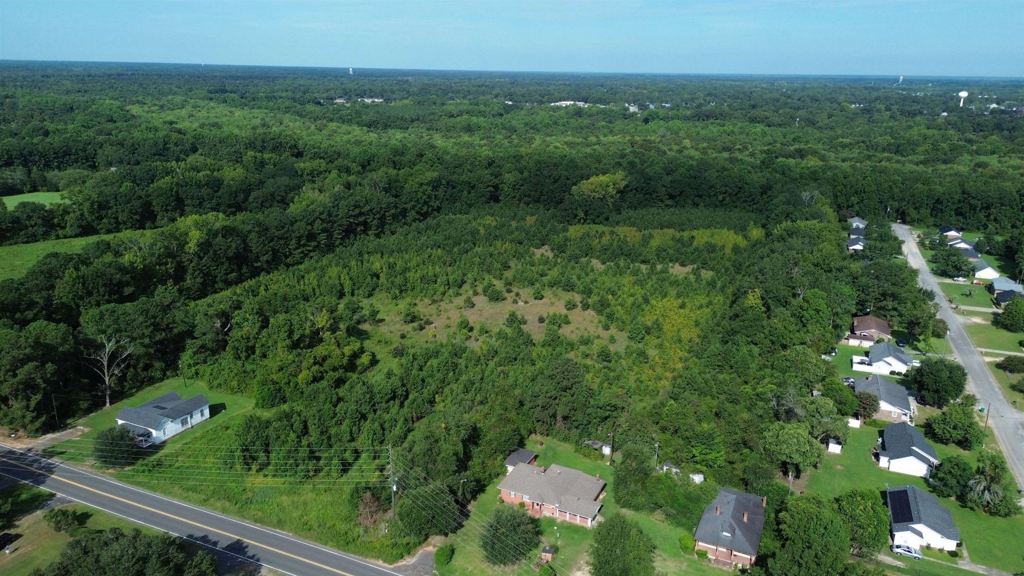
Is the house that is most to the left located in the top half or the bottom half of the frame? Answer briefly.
bottom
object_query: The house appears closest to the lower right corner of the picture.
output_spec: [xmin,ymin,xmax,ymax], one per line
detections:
[886,479,968,549]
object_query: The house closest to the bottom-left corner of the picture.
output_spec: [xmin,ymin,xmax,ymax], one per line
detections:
[112,392,214,447]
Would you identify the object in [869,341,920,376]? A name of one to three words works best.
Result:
house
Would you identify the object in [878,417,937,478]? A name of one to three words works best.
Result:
house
